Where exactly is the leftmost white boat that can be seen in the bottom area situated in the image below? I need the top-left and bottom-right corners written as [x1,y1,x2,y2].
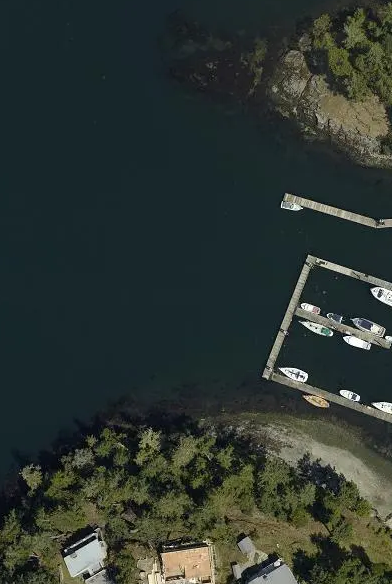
[279,368,308,386]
